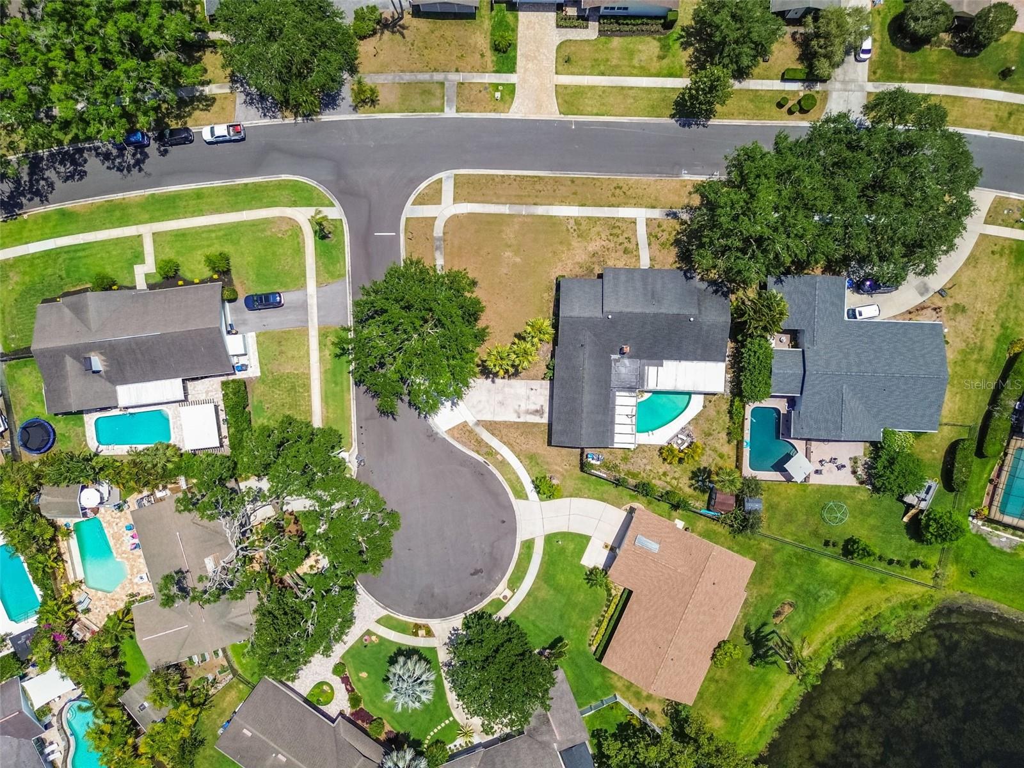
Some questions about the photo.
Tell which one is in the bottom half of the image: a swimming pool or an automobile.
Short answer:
swimming pool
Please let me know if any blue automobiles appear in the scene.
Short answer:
Yes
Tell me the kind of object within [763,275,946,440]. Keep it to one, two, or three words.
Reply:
house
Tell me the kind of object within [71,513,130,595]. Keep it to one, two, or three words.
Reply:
swimming pool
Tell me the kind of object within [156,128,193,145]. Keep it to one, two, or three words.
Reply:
car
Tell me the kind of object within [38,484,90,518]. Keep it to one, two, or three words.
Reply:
shed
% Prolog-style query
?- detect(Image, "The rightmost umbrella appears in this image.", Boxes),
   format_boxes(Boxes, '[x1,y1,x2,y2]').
[783,452,814,482]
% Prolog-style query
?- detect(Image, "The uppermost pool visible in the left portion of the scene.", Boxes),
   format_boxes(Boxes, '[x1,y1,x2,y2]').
[91,406,175,451]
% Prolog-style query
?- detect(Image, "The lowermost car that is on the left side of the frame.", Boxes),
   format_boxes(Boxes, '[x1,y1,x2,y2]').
[243,292,280,310]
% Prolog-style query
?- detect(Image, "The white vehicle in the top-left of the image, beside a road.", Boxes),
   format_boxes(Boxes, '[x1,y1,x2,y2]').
[201,122,244,141]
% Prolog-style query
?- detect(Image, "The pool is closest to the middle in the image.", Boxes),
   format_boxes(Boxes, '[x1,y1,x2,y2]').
[635,391,695,437]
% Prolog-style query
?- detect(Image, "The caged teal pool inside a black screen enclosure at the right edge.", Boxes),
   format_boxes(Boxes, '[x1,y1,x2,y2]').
[996,438,1024,523]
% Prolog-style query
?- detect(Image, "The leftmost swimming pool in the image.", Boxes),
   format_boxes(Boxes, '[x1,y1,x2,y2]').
[0,541,40,627]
